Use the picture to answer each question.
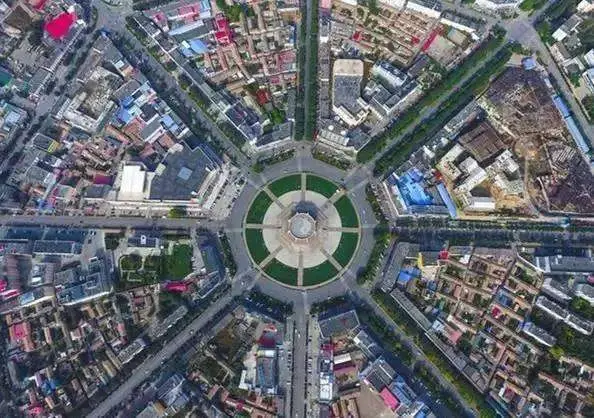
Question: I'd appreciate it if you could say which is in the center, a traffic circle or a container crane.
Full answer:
Visible in the center is a traffic circle.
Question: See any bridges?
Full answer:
No, no bridge is visible in the scene.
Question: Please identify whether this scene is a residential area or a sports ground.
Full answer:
What you see here is a residential area.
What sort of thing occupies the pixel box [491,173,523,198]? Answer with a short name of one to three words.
house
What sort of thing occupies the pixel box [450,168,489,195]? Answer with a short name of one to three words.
building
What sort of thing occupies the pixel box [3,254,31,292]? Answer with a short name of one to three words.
building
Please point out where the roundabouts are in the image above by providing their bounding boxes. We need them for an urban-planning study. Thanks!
[243,171,361,289]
